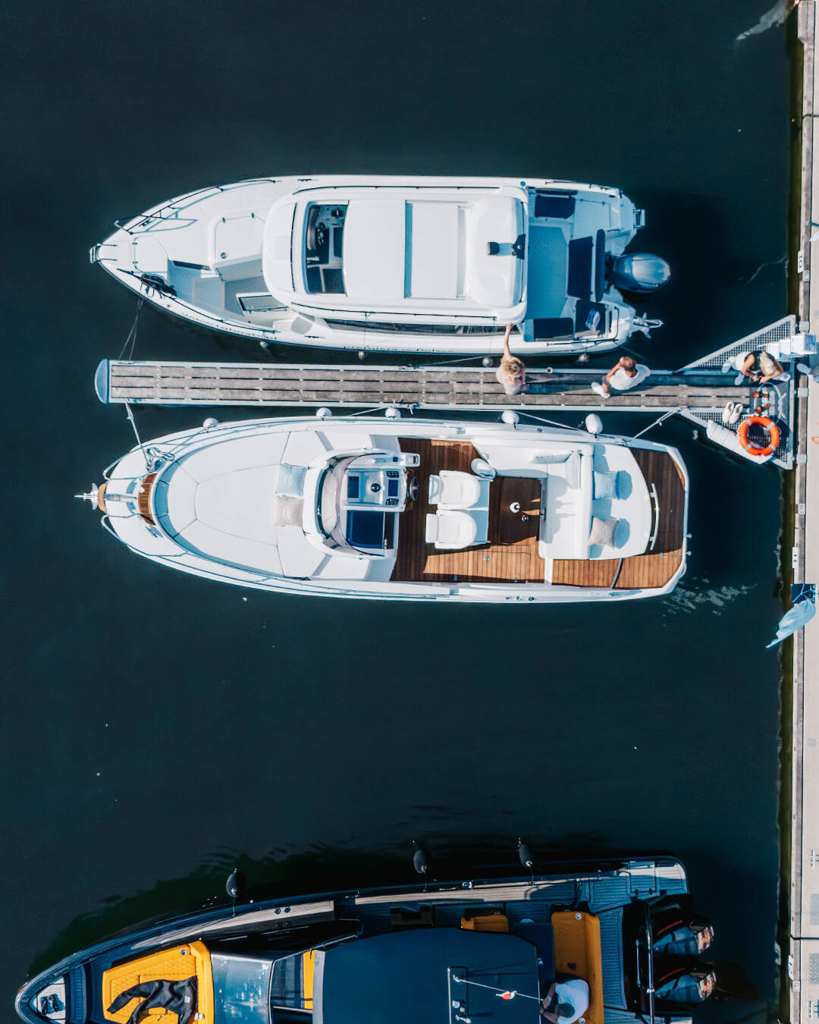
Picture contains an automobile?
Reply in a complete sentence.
No, there appears to be no automobile in this shot.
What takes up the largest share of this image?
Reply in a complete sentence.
The largest share of the image is taken up by water.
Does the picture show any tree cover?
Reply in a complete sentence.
No, no tree cover is visible.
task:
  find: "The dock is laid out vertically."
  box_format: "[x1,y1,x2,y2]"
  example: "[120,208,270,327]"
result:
[776,0,819,1024]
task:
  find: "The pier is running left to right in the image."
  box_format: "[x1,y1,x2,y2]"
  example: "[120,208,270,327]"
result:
[96,315,809,469]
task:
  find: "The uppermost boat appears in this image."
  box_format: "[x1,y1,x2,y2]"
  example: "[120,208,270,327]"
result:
[88,174,671,353]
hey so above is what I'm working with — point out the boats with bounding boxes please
[72,416,692,603]
[88,174,671,353]
[17,849,716,1024]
